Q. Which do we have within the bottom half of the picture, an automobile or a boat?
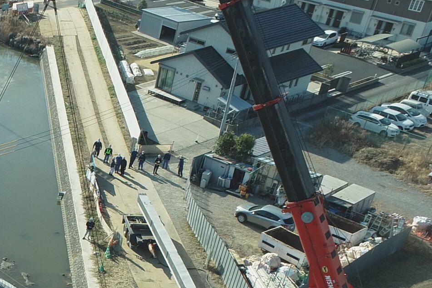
automobile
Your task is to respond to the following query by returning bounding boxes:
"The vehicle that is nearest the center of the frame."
[228,197,279,223]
